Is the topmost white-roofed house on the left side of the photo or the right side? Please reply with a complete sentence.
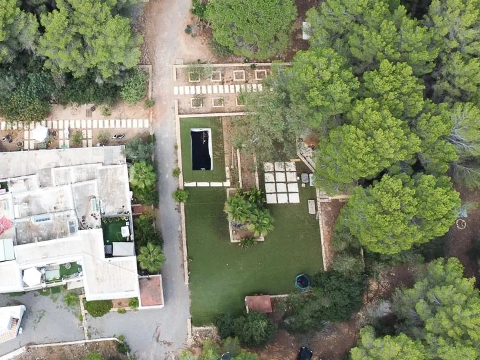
The topmost white-roofed house is on the left side of the image.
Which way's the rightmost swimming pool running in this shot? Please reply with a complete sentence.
In this picture, the rightmost swimming pool lies up and down.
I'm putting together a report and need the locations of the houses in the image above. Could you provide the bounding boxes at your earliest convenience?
[0,306,28,345]
[0,145,163,310]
